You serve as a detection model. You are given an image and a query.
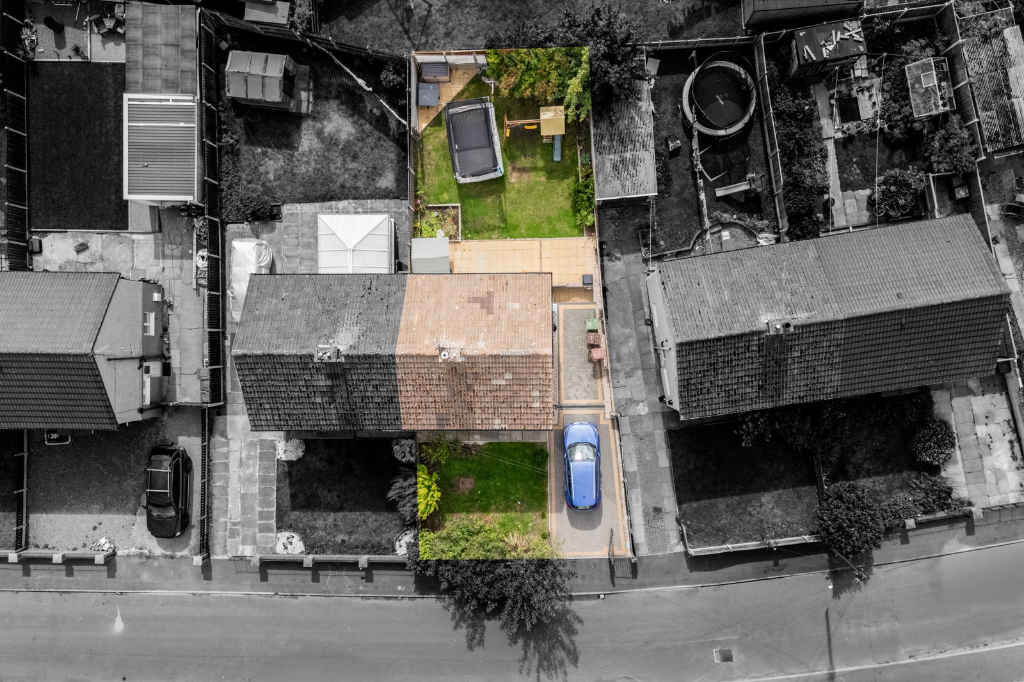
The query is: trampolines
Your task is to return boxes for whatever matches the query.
[442,96,504,184]
[681,53,756,132]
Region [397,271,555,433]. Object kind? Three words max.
house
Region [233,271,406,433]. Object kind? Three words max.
house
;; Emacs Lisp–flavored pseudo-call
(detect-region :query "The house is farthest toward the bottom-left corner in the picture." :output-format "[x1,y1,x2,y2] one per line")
[0,271,163,432]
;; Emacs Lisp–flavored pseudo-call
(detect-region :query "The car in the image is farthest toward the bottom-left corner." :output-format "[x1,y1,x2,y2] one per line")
[144,449,192,538]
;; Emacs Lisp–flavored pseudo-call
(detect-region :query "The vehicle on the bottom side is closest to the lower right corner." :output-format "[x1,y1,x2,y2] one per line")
[561,422,603,513]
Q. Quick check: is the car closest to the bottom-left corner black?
Yes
